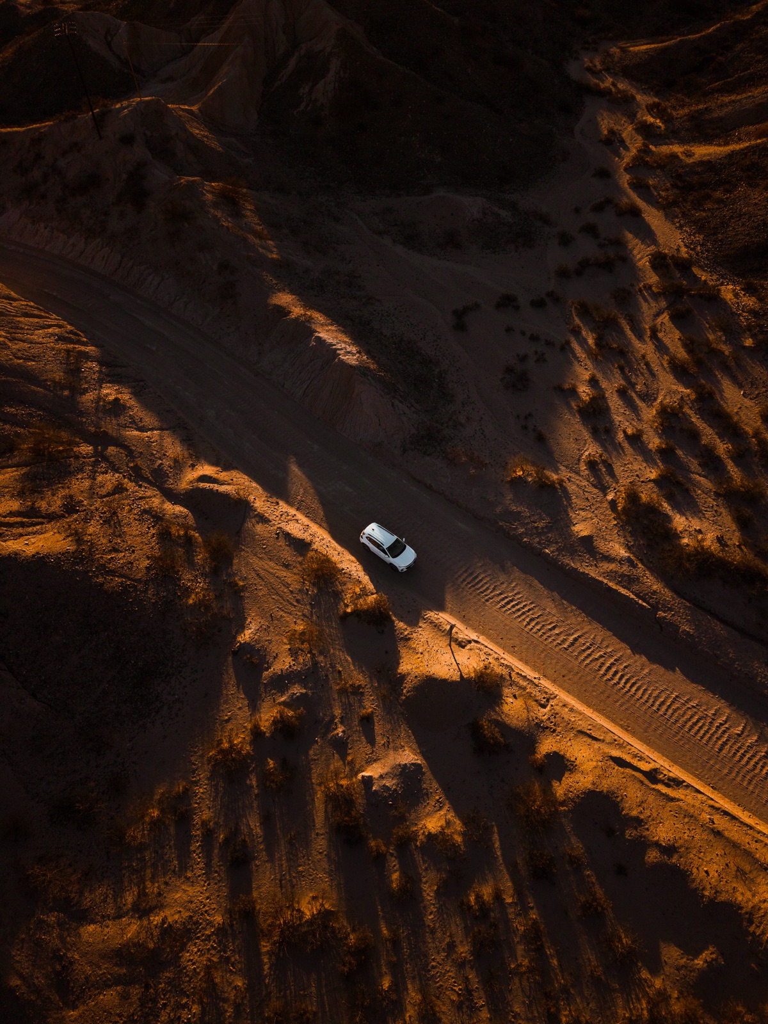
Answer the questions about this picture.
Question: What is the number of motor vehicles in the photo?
1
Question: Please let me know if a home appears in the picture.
No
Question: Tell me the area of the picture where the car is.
center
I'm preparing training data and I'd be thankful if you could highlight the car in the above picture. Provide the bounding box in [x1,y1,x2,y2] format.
[358,522,418,574]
